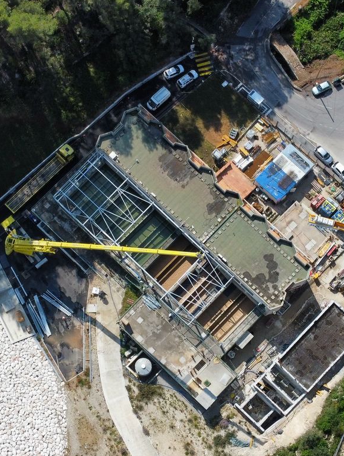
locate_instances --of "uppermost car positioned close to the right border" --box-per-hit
[310,79,334,97]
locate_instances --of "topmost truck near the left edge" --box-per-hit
[6,138,79,213]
